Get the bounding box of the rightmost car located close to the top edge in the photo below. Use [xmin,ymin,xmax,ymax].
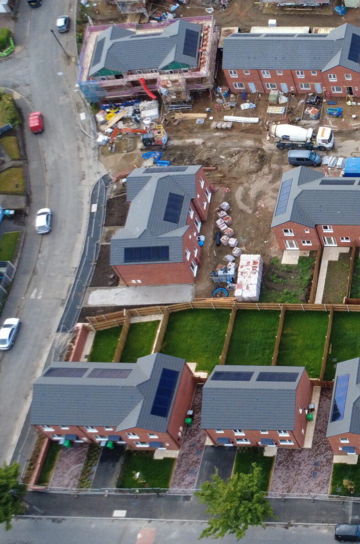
[56,15,71,33]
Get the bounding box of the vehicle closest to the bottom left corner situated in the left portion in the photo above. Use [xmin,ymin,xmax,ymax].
[0,317,22,353]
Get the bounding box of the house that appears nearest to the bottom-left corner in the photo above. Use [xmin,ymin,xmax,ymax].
[31,350,193,450]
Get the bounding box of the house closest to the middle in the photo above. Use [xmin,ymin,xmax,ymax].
[115,176,212,283]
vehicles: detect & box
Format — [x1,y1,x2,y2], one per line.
[284,148,323,166]
[0,317,22,353]
[28,0,41,8]
[332,523,360,544]
[56,15,71,33]
[28,112,45,135]
[36,207,54,237]
[265,129,332,155]
[111,123,172,147]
